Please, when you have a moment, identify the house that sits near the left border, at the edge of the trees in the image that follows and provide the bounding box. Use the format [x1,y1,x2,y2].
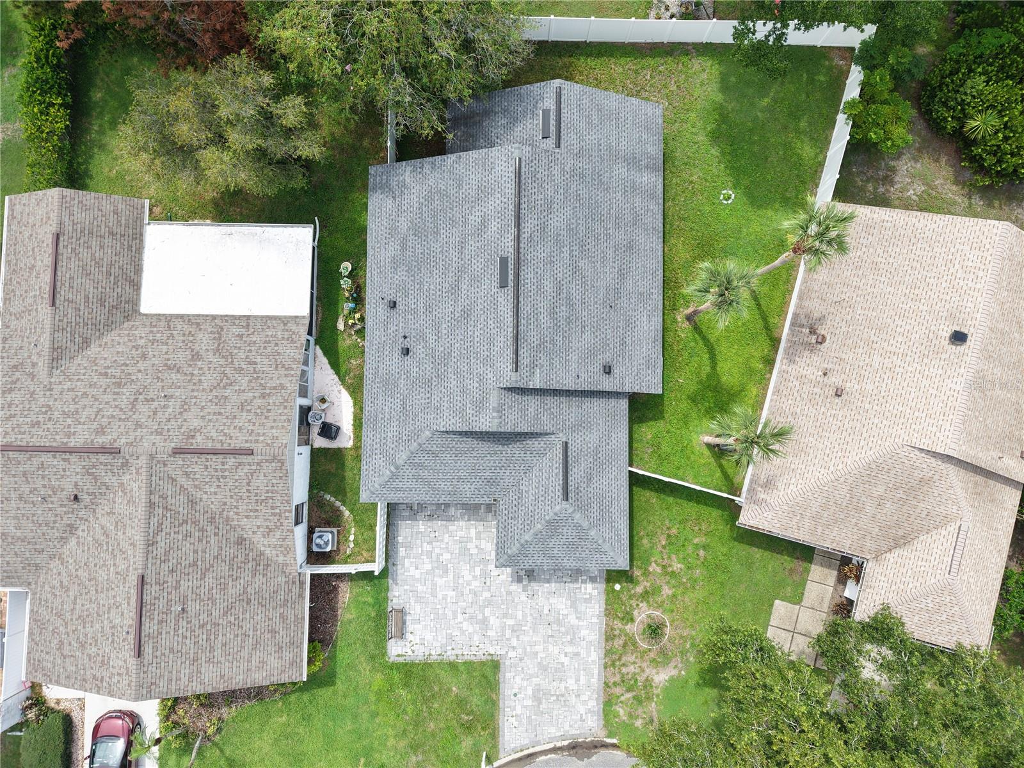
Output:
[0,187,321,703]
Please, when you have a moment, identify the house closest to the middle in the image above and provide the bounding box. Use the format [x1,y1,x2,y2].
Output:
[360,79,663,570]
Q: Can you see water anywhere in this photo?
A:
No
